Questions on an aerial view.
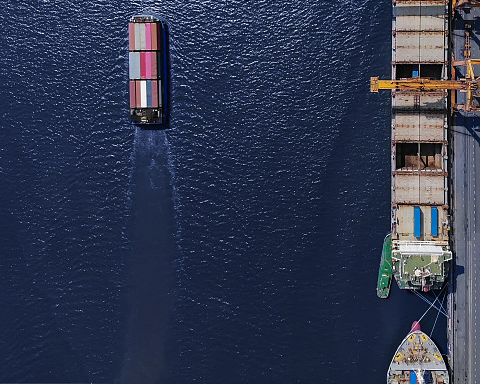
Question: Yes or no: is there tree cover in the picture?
No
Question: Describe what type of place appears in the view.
port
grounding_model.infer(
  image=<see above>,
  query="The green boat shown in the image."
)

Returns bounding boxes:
[377,233,392,299]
